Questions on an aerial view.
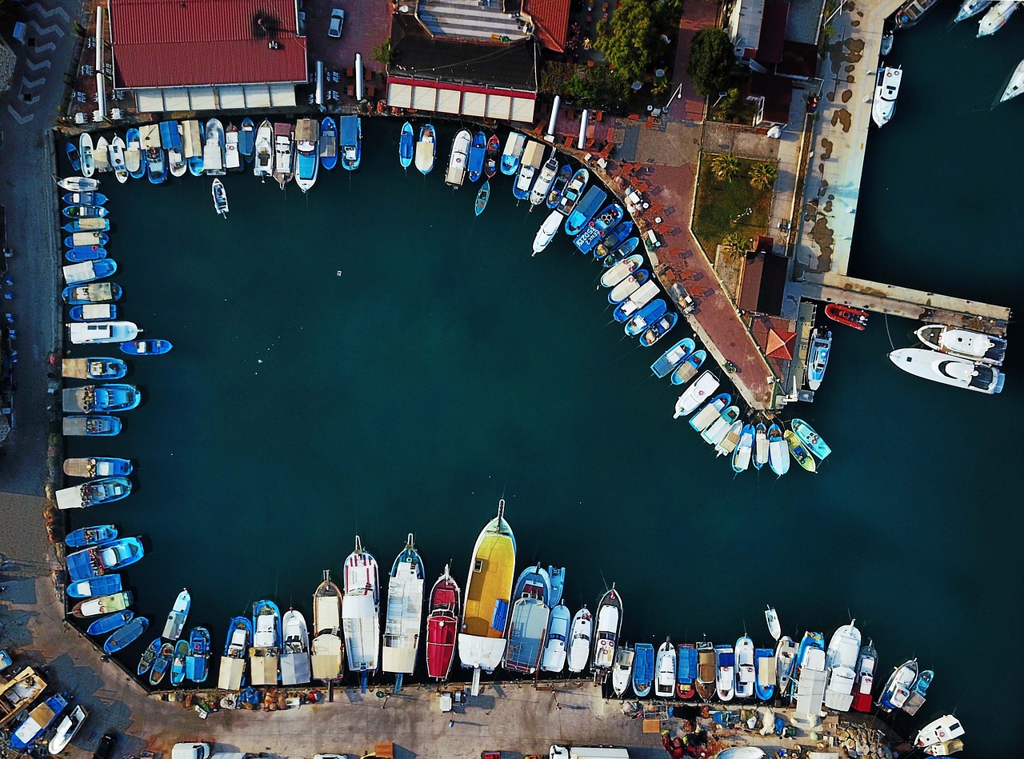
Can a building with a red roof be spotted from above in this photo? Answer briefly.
Yes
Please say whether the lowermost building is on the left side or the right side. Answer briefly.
right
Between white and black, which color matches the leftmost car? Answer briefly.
black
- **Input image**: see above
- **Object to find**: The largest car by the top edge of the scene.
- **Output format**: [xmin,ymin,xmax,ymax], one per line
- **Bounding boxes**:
[327,5,345,36]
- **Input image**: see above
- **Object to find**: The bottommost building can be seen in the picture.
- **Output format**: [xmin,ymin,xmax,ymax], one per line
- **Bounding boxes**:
[762,328,797,360]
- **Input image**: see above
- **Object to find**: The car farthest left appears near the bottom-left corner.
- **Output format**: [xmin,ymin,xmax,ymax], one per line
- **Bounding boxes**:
[93,736,114,759]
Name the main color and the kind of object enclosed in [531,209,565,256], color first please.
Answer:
white boat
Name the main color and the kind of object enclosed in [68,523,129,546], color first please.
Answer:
blue boat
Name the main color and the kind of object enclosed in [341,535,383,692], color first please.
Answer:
white boat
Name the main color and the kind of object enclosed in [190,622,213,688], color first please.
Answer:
blue boat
